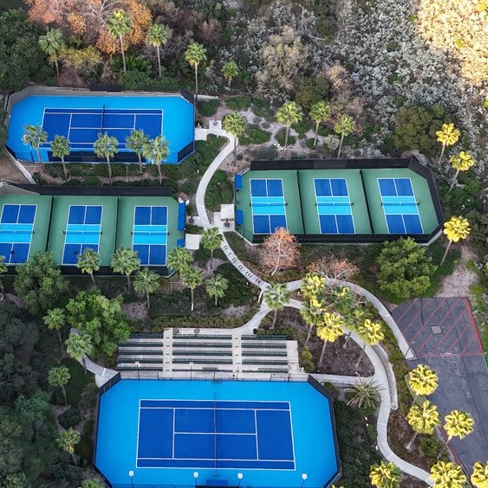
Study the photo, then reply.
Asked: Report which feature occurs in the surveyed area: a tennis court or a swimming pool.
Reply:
tennis court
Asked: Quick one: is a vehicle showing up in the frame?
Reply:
No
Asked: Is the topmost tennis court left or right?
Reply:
left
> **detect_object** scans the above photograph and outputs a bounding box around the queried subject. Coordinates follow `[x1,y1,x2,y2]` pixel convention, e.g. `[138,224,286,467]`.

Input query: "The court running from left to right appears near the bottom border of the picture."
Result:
[94,380,339,488]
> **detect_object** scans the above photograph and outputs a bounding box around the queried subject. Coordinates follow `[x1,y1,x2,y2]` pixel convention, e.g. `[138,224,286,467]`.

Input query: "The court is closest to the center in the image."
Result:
[236,170,305,242]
